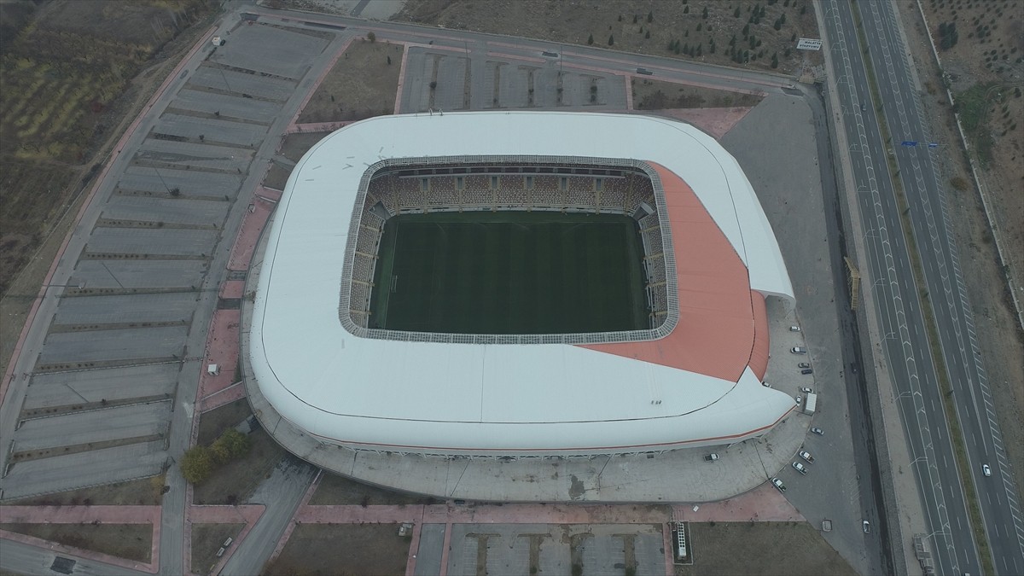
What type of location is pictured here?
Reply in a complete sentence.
This looks like a sports ground.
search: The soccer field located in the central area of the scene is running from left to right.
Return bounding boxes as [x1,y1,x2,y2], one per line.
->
[367,210,654,342]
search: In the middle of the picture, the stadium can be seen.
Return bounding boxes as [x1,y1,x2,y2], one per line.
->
[237,110,815,505]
